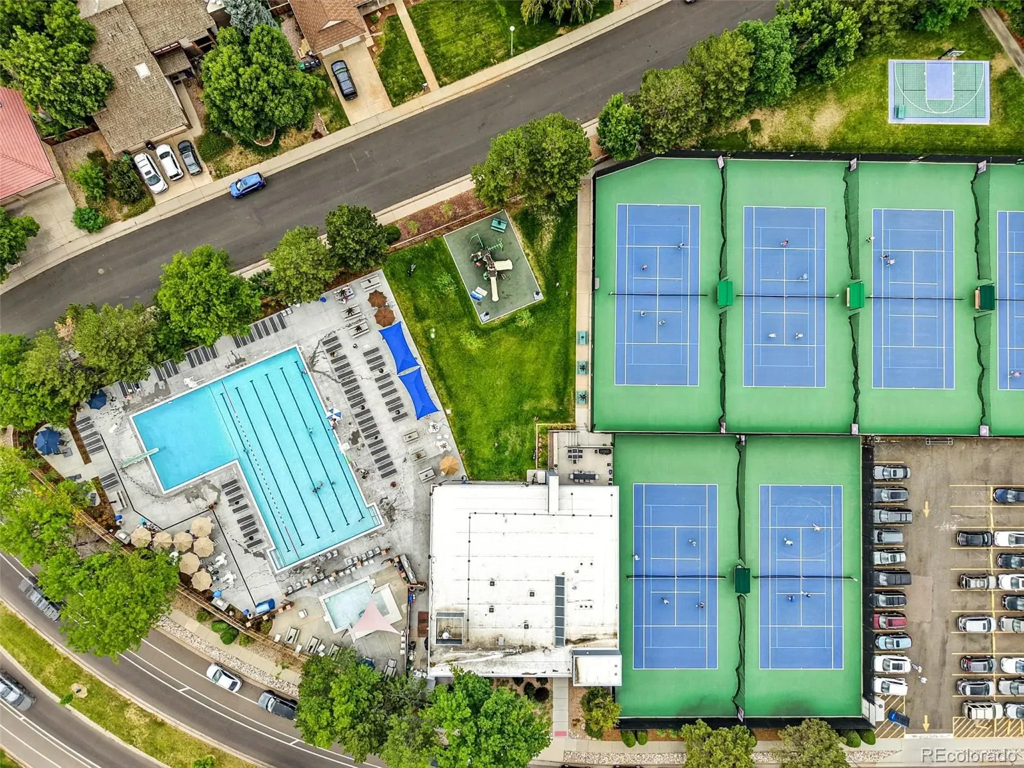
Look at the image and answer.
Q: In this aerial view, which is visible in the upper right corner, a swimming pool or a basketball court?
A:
basketball court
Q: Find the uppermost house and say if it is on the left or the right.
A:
left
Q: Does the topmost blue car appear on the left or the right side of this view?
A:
left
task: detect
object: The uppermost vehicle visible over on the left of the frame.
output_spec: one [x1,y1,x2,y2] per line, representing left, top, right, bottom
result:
[332,59,357,101]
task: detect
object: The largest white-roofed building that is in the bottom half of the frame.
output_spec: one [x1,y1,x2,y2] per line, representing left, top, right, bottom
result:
[431,472,622,687]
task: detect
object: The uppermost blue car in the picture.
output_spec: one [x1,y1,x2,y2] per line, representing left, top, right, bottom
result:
[230,173,268,197]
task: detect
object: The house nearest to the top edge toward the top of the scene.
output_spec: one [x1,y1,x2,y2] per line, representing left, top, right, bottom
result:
[291,0,397,62]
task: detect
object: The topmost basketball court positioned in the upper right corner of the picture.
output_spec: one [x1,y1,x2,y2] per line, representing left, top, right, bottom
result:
[888,59,990,125]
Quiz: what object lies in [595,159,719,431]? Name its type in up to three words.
tennis court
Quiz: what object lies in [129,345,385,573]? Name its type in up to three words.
swimming pool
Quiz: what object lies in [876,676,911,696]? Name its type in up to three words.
car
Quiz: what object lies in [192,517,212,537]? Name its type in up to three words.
umbrella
